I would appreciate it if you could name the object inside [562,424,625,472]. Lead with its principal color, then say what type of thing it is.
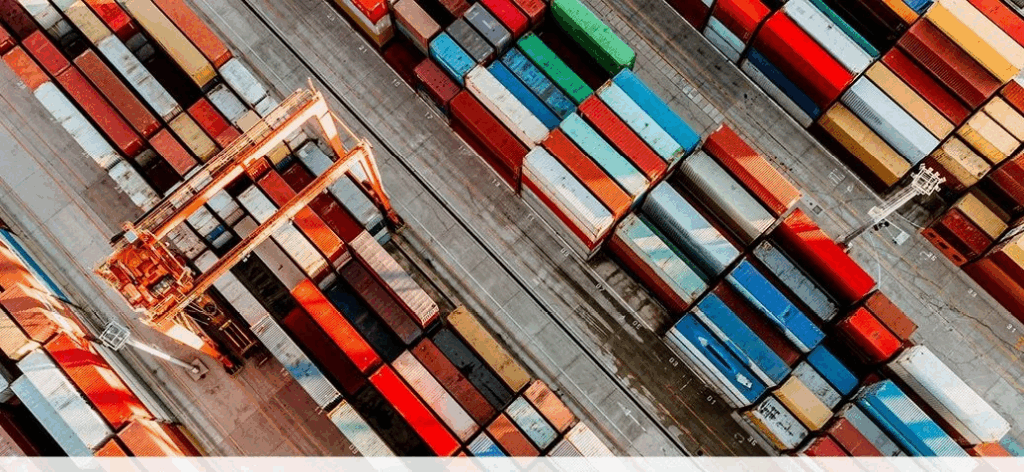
white shipping container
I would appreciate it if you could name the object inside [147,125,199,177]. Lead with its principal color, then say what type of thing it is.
red shipping container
